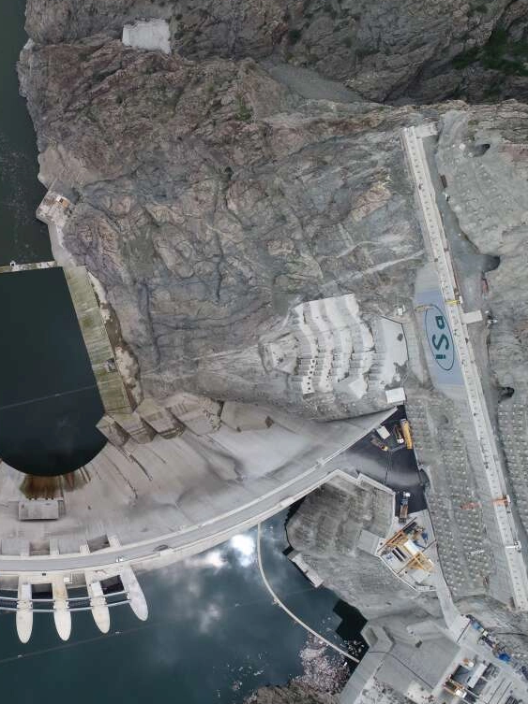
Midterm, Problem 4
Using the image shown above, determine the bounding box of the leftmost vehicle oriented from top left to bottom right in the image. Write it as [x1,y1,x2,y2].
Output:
[372,437,390,452]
